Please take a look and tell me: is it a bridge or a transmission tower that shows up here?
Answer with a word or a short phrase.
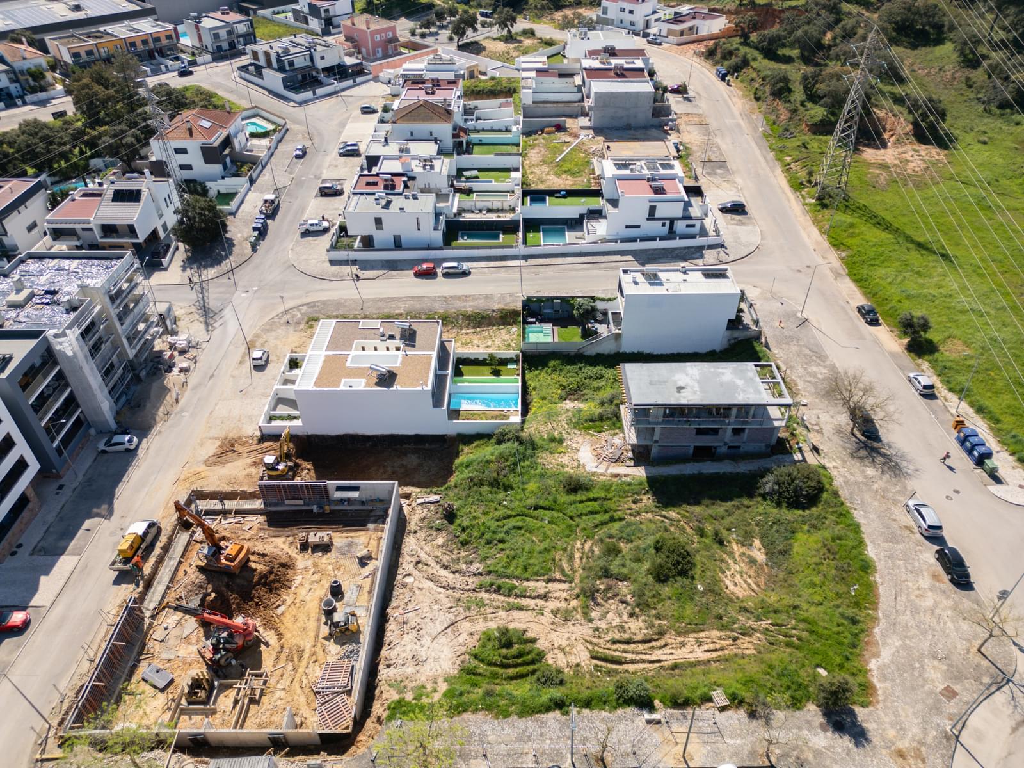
transmission tower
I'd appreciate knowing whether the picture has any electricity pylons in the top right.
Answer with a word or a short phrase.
Yes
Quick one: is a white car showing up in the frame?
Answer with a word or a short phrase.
Yes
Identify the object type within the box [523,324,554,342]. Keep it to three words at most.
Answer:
swimming pool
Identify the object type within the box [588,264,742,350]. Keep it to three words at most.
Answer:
house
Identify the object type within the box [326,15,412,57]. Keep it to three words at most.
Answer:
house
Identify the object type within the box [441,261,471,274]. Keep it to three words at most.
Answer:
vehicle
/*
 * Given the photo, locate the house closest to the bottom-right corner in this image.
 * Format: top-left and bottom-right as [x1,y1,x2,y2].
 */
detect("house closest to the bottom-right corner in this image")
[609,364,792,457]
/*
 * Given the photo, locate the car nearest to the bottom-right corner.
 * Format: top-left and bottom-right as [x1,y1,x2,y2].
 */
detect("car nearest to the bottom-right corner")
[926,542,981,589]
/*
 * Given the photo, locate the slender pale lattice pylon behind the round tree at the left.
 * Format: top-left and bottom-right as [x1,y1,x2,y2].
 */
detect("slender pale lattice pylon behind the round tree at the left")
[147,79,195,204]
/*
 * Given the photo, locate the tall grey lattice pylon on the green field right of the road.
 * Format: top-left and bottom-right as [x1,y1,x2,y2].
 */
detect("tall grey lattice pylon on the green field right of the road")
[817,24,899,200]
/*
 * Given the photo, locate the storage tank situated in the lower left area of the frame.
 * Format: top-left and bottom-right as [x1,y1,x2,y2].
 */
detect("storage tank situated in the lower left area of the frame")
[139,663,175,697]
